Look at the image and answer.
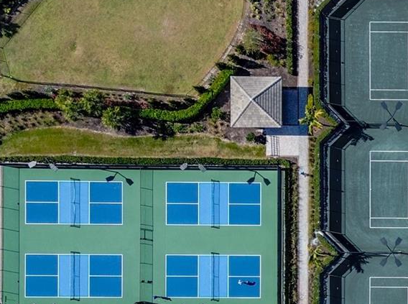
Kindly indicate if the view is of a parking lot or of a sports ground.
sports ground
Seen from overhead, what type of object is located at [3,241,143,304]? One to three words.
sports court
